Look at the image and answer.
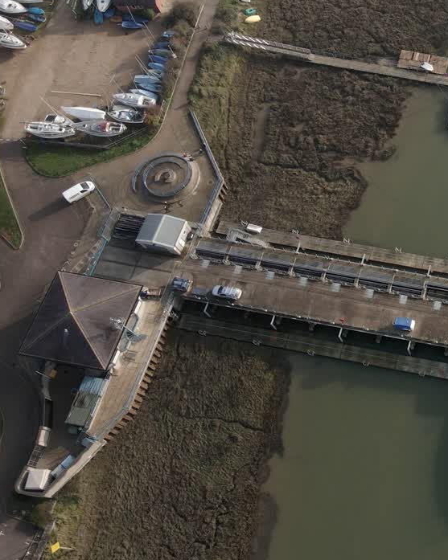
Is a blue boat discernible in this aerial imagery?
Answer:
Yes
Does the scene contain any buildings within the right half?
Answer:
No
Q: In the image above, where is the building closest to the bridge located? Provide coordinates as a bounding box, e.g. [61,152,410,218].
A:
[136,213,192,253]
